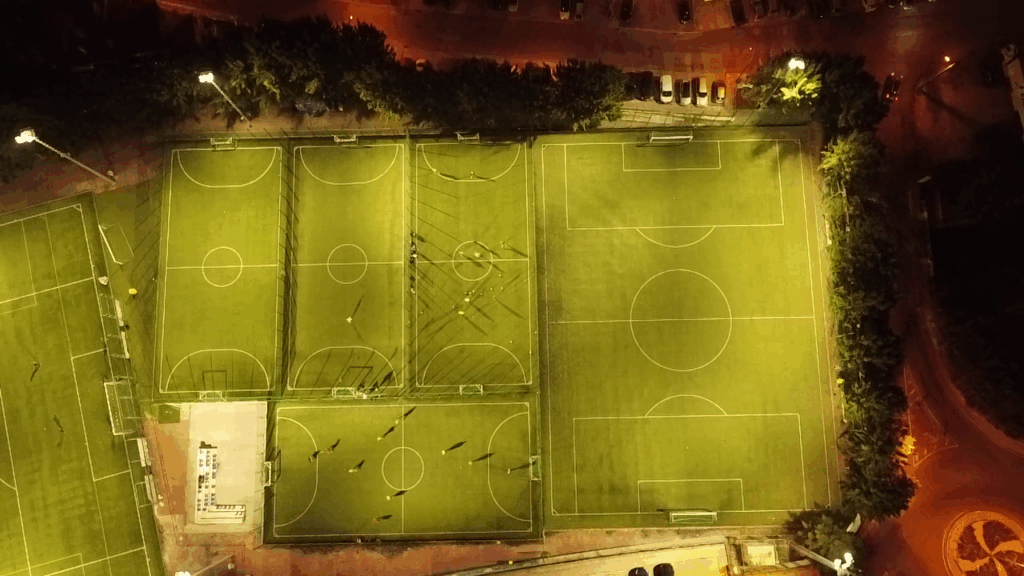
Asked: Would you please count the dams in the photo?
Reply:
0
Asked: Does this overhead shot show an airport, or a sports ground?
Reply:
sports ground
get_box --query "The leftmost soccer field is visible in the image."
[0,192,165,576]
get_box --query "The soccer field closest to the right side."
[534,127,840,530]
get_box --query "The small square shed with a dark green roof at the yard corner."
[158,406,182,424]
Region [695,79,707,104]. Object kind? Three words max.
vehicle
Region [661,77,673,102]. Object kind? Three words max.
vehicle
